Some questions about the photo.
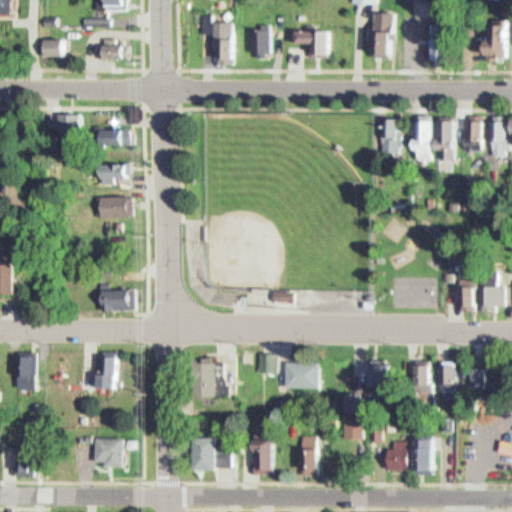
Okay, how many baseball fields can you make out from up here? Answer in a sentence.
There is 1 baseball field in the image.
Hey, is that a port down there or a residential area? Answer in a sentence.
What you see here is a residential area.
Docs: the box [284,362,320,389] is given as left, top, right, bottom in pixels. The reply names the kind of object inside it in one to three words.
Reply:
house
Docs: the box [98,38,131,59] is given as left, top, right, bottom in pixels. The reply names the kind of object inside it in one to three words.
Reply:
house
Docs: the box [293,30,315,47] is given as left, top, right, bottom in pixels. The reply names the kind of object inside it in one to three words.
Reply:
building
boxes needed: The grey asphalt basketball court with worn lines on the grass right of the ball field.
[394,278,438,308]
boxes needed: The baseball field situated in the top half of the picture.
[206,113,371,288]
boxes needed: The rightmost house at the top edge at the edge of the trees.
[480,23,508,60]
